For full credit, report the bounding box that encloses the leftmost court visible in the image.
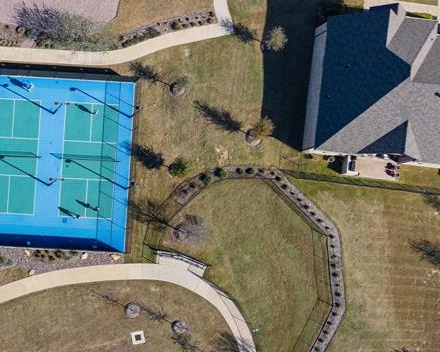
[0,98,42,215]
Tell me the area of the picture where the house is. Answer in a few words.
top right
